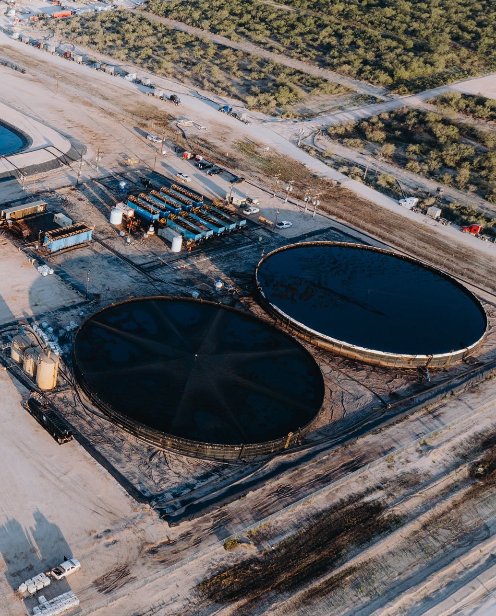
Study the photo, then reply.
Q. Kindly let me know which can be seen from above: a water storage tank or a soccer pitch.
water storage tank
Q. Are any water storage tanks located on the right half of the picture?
Yes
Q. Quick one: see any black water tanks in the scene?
Yes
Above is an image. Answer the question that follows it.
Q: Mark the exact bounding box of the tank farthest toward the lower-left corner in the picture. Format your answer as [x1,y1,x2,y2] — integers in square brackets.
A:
[25,392,69,442]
